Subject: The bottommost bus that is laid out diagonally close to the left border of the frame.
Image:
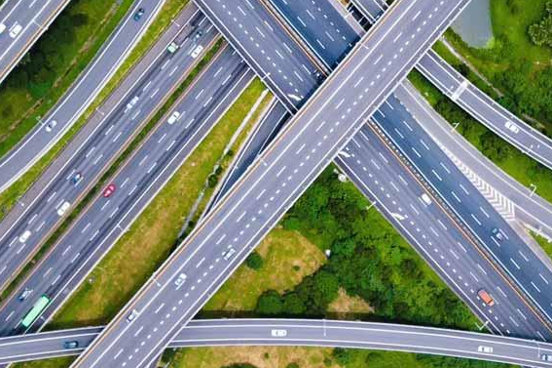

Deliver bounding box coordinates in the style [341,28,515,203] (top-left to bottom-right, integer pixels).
[21,296,49,328]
